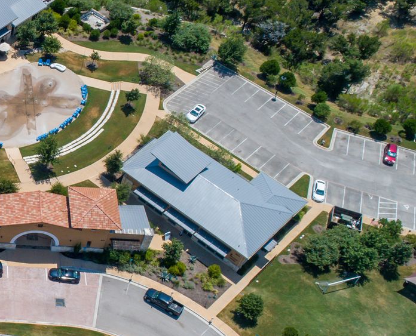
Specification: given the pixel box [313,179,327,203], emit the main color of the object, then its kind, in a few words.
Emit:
white car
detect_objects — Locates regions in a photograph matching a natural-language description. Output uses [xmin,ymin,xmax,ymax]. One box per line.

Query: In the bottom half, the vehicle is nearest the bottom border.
[144,292,185,318]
